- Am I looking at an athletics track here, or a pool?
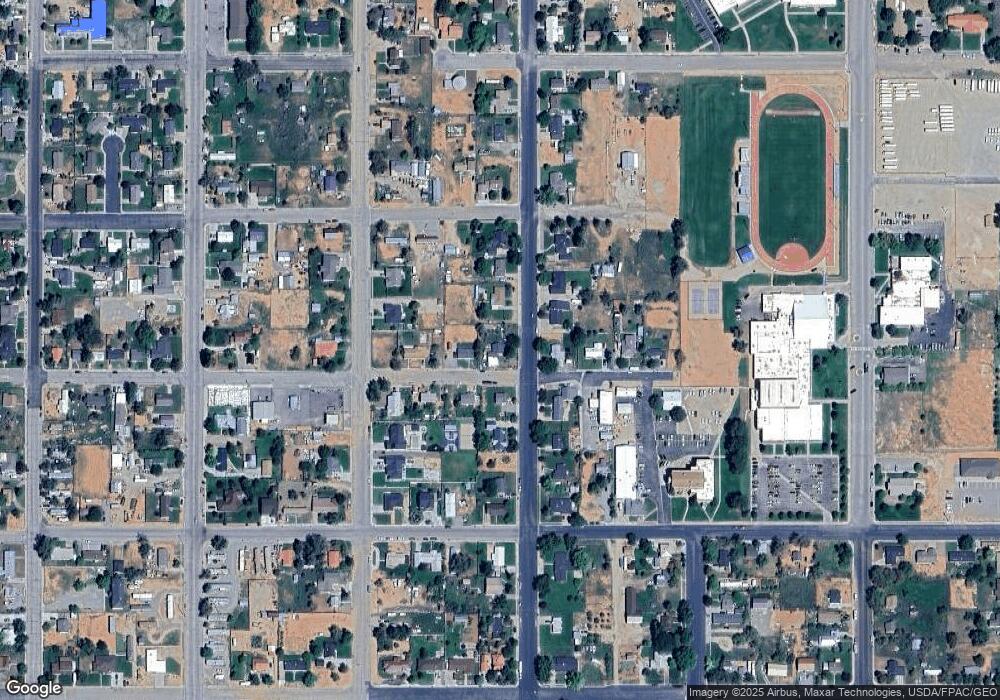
athletics track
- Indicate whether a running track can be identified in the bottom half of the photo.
No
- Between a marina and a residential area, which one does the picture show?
residential area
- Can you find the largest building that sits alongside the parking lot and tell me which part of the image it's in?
right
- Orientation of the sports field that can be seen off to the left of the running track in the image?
from top to bottom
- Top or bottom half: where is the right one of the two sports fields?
top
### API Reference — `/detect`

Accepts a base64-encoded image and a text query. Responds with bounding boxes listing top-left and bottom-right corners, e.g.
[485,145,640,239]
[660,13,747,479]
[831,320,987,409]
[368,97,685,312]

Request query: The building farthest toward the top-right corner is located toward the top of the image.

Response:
[948,14,988,31]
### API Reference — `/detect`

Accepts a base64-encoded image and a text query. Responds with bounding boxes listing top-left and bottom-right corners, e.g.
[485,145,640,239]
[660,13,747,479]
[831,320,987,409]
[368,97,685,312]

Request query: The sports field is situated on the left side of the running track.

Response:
[681,76,750,266]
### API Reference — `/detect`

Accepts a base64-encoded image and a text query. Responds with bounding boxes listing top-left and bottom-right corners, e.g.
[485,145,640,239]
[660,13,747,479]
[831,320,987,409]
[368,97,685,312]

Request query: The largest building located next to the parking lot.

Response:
[751,294,835,440]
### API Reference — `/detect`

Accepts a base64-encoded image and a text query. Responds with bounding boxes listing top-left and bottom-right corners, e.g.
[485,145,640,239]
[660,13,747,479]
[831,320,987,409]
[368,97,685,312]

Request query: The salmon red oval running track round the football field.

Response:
[750,85,835,272]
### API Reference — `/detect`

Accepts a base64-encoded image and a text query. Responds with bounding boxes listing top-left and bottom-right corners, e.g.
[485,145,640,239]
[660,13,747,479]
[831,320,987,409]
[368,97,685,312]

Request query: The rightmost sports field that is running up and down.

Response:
[760,94,825,259]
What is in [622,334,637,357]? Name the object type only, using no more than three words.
house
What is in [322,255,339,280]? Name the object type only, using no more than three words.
building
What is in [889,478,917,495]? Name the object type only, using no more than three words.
building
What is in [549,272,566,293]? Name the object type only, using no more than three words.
house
